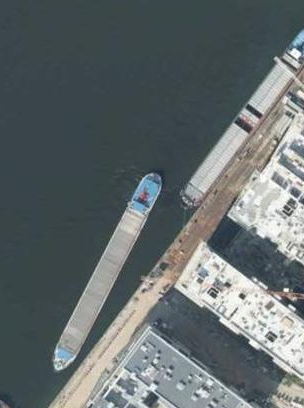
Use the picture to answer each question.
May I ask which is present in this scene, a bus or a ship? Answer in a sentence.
I can see a ship in this picture.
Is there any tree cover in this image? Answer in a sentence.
No, there is no tree cover in the image.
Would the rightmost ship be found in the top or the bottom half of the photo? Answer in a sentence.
You can find the rightmost ship in the top half.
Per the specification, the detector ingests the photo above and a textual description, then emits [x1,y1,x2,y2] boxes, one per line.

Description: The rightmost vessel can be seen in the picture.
[188,29,304,205]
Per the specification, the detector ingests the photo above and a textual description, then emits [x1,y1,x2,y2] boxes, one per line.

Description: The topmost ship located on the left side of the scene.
[56,171,159,371]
